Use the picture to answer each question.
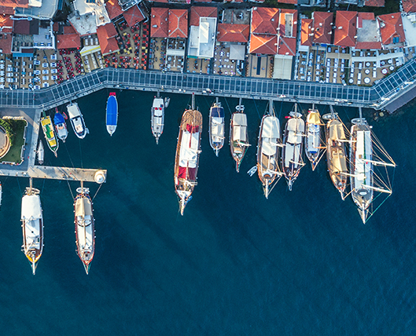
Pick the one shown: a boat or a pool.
boat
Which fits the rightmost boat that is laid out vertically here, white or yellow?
white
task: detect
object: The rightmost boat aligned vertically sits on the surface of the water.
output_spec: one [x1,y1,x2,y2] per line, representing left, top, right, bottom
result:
[343,108,393,223]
